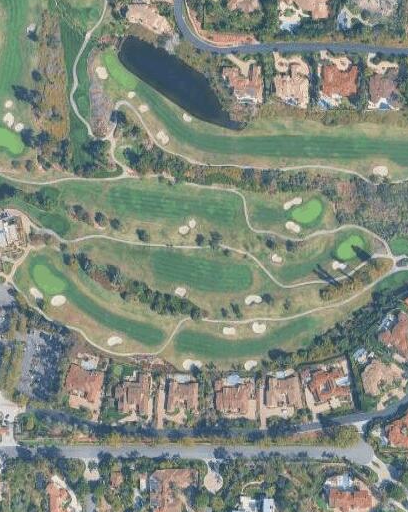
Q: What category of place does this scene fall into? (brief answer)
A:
golf course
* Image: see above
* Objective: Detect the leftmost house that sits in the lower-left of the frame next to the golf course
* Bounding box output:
[64,365,102,410]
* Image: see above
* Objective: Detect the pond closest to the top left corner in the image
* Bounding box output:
[119,35,241,128]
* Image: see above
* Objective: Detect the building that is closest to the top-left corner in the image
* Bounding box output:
[125,0,174,36]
